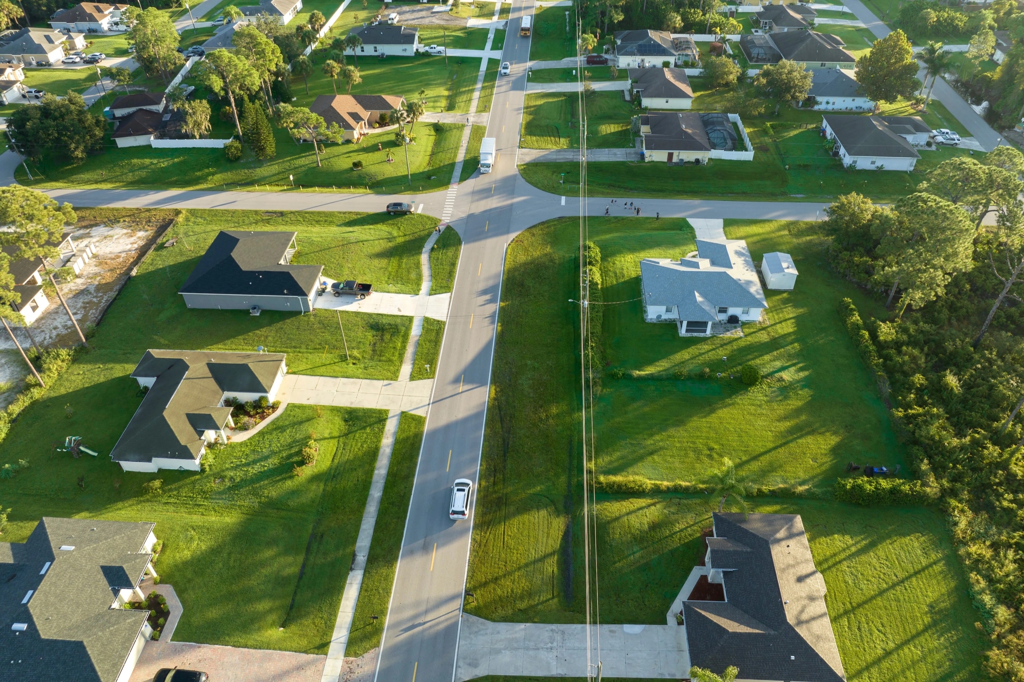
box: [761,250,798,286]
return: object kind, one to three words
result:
shed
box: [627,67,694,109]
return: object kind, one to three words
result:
house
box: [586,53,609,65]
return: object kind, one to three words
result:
vehicle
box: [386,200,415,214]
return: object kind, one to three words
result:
car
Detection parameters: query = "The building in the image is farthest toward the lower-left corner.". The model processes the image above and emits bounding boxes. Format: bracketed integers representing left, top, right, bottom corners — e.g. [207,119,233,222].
[0,517,159,682]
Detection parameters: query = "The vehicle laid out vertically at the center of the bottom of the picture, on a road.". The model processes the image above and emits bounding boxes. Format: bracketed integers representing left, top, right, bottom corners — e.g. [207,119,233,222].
[449,476,472,518]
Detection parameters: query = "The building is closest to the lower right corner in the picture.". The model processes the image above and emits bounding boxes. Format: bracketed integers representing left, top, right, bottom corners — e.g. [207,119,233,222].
[681,511,848,682]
